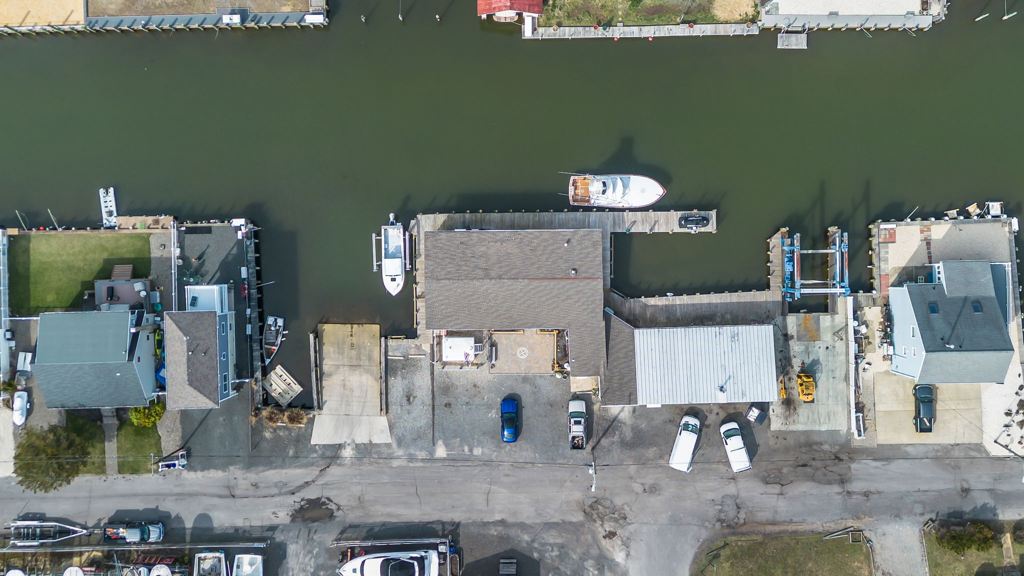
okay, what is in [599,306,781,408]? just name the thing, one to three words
building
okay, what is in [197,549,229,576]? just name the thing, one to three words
boat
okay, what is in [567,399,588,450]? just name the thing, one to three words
truck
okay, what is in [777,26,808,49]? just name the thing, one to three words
pier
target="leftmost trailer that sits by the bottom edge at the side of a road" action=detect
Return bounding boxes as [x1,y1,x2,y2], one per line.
[4,520,103,549]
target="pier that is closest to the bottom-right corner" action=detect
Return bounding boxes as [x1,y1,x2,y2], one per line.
[849,290,881,306]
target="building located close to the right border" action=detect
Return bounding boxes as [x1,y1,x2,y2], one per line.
[889,260,1014,384]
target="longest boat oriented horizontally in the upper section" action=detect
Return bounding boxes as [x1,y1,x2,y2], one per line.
[559,172,667,207]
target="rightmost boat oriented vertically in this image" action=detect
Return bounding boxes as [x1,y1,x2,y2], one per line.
[382,217,405,294]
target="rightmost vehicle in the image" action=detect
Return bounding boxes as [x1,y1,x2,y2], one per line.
[912,384,936,434]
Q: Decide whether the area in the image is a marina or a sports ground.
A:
marina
